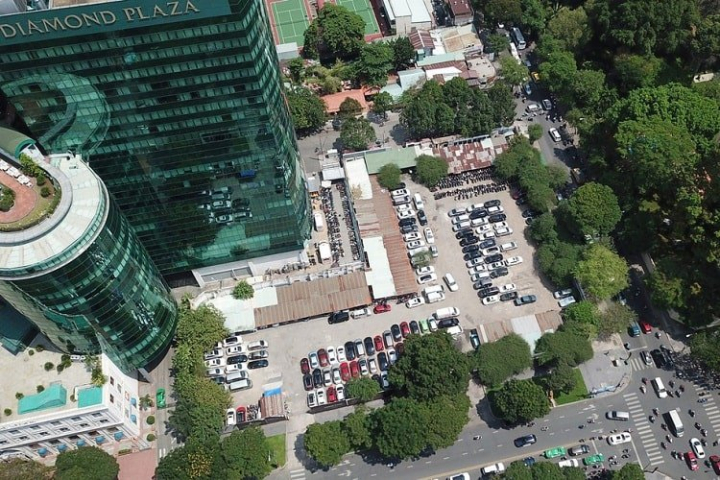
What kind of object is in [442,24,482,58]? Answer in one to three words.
house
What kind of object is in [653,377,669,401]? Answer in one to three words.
vehicle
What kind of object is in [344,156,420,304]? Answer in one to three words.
shed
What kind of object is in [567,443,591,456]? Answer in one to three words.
vehicle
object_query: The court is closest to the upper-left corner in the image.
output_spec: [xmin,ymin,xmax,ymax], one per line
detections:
[269,0,318,54]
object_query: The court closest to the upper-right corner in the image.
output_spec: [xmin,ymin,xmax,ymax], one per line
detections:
[340,0,399,42]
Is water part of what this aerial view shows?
No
